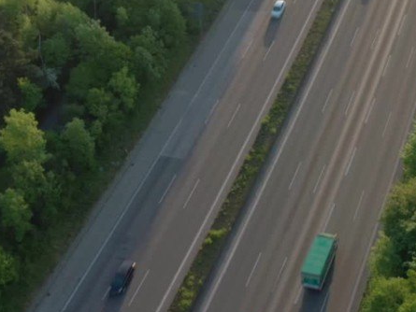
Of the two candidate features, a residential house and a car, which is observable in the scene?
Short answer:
car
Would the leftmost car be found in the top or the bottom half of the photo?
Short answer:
bottom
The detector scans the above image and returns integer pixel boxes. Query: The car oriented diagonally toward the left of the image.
[110,262,137,293]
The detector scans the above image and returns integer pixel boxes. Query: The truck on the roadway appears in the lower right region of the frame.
[301,233,341,293]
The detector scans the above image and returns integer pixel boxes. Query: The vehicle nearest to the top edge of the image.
[270,1,286,19]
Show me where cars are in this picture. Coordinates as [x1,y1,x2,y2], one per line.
[270,1,286,19]
[110,262,137,293]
